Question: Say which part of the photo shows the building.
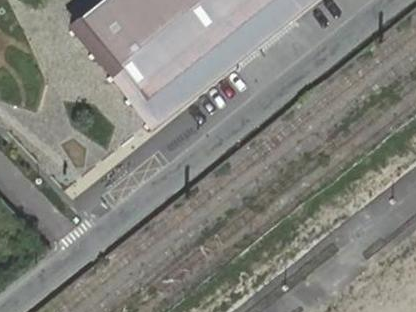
top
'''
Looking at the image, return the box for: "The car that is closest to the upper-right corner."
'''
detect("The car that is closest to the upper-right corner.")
[322,0,342,20]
